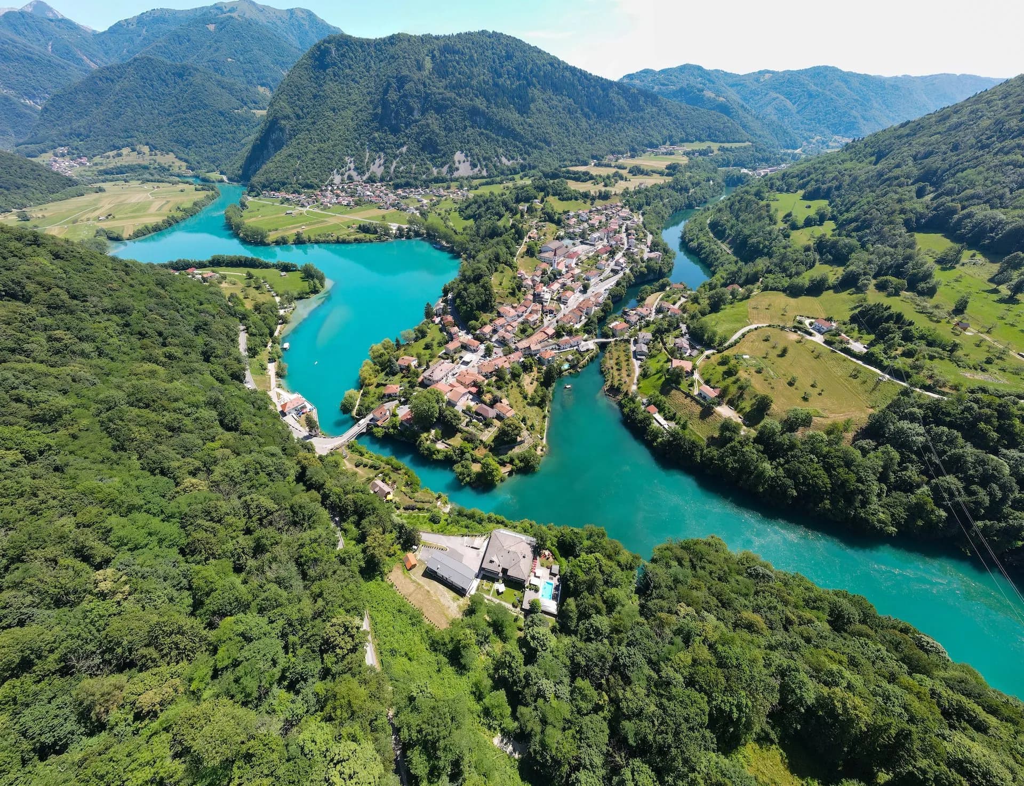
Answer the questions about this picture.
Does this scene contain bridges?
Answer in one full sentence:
Yes, I can see a bridge in this picture.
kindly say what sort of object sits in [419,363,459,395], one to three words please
house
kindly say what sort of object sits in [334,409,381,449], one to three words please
bridge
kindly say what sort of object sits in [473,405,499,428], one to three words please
house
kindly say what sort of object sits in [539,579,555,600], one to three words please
swimming pool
